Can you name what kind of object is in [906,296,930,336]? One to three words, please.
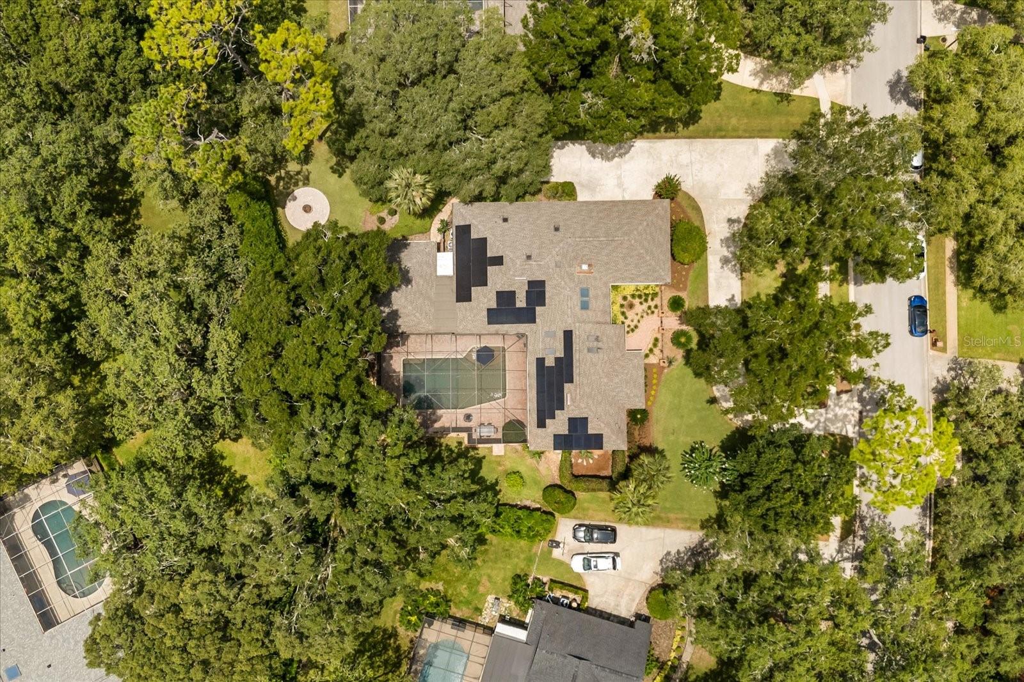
car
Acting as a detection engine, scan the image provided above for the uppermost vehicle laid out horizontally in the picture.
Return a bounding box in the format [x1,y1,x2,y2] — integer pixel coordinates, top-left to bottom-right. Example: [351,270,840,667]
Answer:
[573,524,617,545]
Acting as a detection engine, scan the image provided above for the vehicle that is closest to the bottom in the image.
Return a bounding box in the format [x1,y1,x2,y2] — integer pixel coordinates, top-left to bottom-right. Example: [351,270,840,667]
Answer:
[573,553,619,574]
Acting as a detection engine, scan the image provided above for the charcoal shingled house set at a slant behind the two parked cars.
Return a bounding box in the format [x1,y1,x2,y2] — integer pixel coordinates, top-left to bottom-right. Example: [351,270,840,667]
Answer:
[470,598,652,682]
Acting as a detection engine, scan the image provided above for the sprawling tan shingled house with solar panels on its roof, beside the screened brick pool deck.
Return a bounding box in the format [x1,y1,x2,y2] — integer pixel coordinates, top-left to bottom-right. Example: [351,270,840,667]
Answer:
[366,199,672,450]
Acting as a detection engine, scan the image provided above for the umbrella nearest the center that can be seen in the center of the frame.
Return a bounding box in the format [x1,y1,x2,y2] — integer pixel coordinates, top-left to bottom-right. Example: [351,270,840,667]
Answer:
[477,345,494,366]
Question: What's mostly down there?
trees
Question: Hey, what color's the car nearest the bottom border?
white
